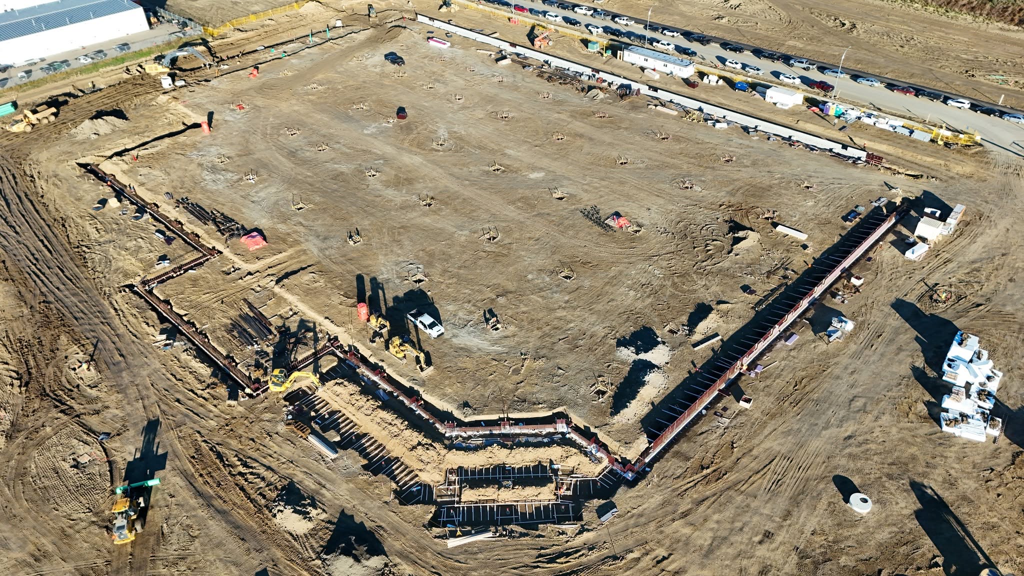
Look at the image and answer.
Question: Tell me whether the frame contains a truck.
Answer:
Yes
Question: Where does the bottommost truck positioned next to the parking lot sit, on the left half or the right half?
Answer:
left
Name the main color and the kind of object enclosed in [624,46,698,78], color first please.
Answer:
white trailer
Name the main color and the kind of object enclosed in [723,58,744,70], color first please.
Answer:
white vehicle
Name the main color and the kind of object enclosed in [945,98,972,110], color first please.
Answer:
white vehicle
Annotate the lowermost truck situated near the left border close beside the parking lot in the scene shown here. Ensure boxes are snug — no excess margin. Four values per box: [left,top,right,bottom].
[0,100,55,135]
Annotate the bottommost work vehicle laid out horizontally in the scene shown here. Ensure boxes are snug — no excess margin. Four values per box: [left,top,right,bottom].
[267,369,328,397]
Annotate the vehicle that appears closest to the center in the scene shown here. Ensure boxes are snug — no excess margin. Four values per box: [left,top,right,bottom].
[405,306,445,339]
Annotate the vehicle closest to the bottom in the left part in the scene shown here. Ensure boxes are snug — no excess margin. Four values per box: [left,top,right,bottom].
[107,487,149,546]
